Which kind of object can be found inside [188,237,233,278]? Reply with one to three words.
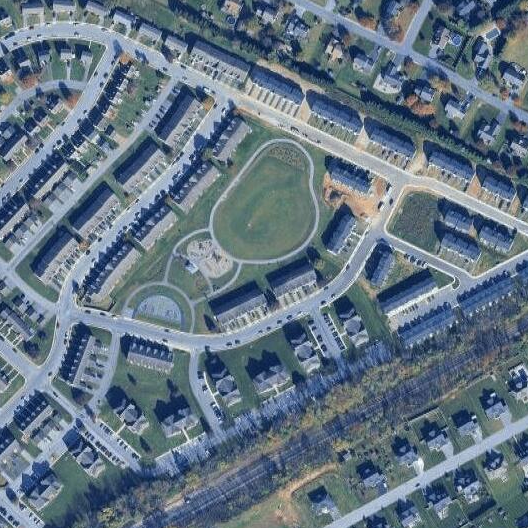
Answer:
playground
